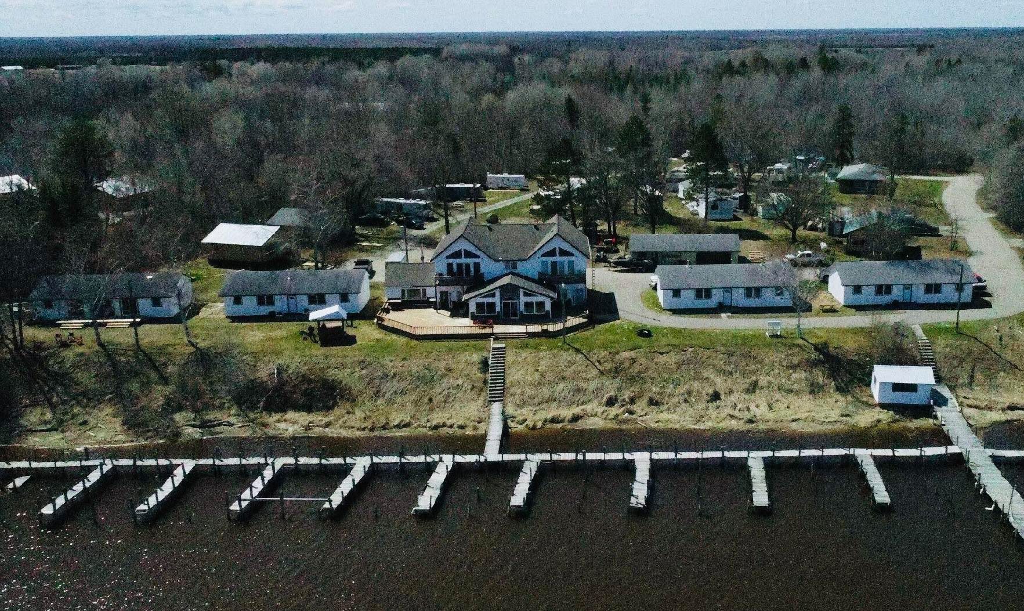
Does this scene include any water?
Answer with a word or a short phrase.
Yes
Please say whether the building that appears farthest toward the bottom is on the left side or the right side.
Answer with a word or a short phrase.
right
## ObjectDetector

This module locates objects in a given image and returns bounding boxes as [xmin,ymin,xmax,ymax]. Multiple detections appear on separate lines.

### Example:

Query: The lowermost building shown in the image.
[863,368,935,405]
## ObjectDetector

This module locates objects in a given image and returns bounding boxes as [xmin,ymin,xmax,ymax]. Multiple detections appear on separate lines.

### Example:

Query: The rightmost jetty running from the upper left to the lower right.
[929,393,1024,538]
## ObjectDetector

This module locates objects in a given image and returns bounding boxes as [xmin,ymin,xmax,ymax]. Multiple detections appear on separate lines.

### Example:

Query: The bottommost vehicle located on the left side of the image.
[354,261,377,278]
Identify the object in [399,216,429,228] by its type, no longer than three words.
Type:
vehicle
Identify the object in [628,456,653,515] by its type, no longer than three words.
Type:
pier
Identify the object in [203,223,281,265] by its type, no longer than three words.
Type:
building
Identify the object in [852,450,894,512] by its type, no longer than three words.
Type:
pier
